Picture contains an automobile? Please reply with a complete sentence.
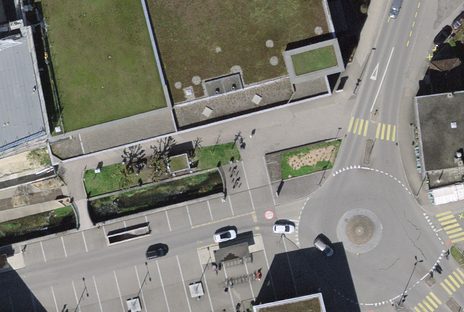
Yes, the picture does show an automobile.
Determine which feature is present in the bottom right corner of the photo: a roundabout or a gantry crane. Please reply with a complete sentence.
The one visible in the bottom right corner of the photo is a roundabout.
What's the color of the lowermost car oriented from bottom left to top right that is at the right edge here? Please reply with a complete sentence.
From above, the lowermost car oriented from bottom left to top right that is at the right edge appears black.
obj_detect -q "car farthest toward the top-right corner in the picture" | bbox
[450,10,464,30]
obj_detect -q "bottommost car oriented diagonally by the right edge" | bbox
[432,24,454,46]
